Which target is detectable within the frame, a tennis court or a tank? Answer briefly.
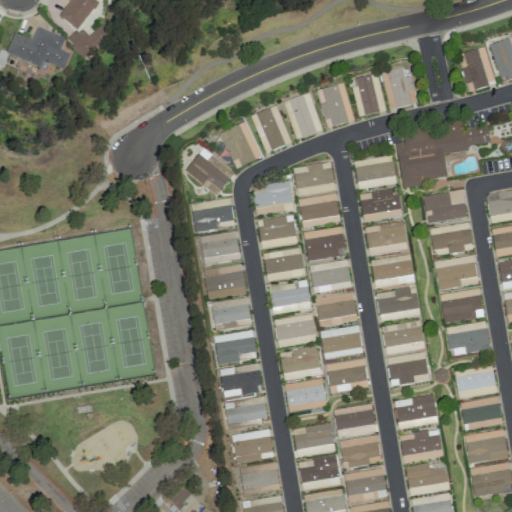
tennis court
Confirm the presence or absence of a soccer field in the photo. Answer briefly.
No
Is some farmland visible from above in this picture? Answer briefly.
No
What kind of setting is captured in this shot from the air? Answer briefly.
residential area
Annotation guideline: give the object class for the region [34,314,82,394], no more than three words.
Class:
tennis court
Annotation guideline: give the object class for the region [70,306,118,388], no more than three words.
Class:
tennis court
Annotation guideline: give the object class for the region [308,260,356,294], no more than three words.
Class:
house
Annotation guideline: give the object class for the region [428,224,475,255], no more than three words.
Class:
house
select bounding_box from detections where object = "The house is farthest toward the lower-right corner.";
[468,464,512,498]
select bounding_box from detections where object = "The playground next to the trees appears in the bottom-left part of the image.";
[72,420,138,472]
